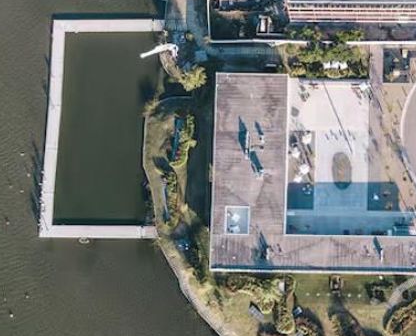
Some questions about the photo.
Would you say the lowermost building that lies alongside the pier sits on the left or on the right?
right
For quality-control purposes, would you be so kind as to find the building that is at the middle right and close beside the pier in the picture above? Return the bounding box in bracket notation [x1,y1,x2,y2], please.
[211,71,416,271]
